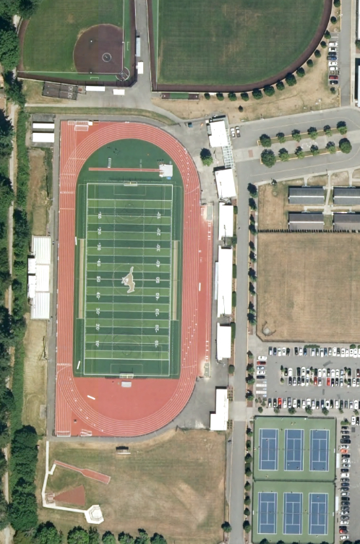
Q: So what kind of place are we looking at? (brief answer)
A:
sports ground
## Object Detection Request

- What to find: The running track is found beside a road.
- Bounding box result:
[55,121,213,437]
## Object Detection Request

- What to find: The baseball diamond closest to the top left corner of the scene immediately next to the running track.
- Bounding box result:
[18,0,137,85]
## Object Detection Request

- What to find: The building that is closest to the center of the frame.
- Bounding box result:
[215,168,236,199]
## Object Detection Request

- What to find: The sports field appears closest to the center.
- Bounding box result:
[73,139,184,379]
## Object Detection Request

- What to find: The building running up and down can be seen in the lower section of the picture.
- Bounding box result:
[211,388,228,432]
